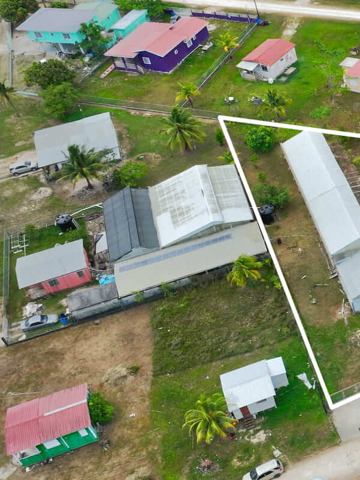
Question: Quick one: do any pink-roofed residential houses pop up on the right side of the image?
Yes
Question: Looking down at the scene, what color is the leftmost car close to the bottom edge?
white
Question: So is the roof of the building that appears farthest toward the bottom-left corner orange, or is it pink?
pink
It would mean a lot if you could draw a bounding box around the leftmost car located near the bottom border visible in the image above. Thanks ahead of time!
[241,458,285,480]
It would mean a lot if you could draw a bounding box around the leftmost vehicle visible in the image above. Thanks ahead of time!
[7,161,39,177]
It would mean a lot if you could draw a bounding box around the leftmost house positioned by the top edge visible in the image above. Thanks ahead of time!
[16,3,101,56]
